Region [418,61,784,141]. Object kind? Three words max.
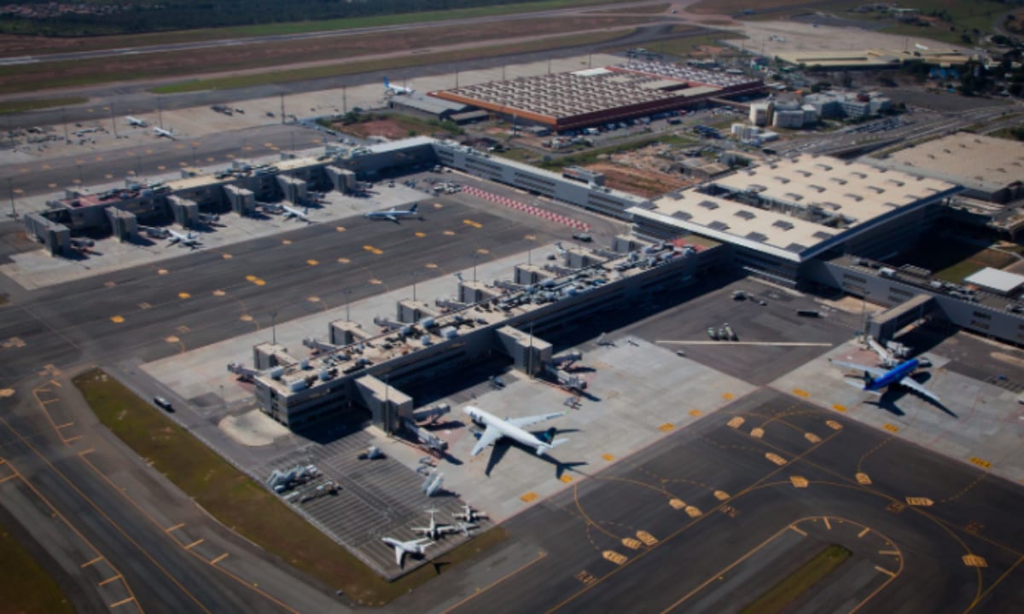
building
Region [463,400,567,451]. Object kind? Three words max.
airplane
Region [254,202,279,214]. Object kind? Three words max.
jet bridge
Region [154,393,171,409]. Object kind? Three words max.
vehicle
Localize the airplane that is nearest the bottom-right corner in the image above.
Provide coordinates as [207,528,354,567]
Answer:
[837,353,939,396]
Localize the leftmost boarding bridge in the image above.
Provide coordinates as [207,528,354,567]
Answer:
[69,236,97,250]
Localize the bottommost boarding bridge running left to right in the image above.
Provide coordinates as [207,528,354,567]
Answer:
[414,402,454,421]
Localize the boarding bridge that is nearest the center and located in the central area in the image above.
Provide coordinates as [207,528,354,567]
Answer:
[491,279,525,293]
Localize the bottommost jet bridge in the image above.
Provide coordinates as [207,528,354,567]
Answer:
[404,419,450,454]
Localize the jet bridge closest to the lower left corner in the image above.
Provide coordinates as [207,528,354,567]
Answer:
[224,362,259,385]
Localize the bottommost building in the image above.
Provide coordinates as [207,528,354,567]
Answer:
[965,266,1024,301]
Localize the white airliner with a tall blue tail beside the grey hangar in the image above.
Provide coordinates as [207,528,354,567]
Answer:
[386,78,415,94]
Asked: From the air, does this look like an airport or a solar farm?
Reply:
airport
